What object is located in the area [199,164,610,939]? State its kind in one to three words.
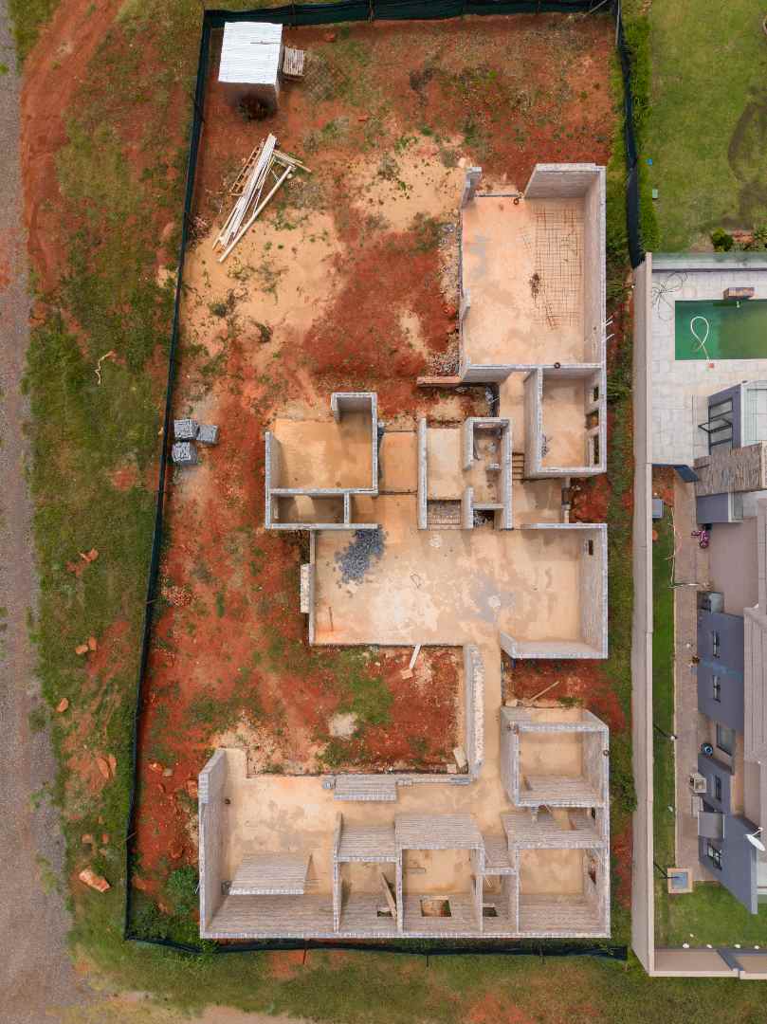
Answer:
house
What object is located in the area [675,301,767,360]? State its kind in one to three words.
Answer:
swimming pool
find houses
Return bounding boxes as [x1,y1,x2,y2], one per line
[696,384,767,919]
[199,164,610,939]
